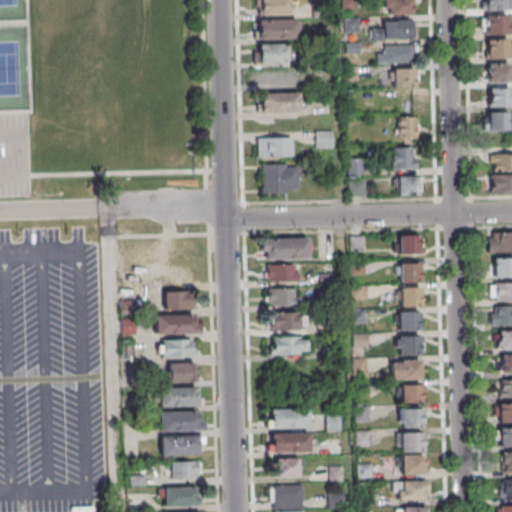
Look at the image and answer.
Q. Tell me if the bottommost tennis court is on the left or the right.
left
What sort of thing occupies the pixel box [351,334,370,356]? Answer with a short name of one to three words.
building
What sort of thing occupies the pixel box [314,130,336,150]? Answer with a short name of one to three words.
building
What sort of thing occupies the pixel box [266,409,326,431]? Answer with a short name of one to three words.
house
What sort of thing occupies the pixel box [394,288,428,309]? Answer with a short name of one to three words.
house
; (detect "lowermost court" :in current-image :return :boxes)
[0,28,27,110]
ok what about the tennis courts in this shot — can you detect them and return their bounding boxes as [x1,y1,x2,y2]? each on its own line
[0,0,26,20]
[0,28,27,110]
